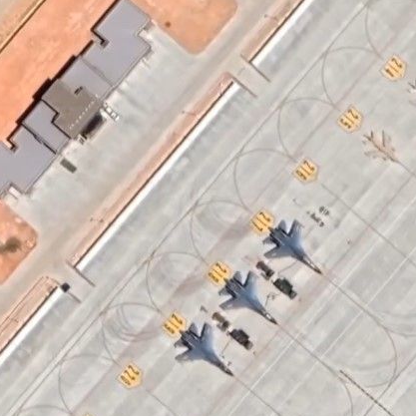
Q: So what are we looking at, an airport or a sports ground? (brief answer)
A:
airport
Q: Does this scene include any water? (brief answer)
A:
No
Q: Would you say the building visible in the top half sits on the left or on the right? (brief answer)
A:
left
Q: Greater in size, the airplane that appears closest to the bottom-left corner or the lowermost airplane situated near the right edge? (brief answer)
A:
the airplane that appears closest to the bottom-left corner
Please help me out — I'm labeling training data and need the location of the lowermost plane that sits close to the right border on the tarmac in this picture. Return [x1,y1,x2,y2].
[360,127,397,161]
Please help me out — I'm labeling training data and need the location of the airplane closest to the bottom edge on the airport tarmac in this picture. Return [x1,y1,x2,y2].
[174,323,233,376]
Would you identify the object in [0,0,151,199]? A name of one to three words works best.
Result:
building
